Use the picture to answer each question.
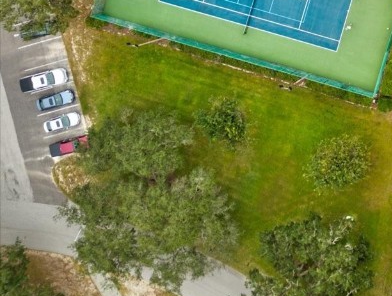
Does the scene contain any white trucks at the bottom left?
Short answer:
No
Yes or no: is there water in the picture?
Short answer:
No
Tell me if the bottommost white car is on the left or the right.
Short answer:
left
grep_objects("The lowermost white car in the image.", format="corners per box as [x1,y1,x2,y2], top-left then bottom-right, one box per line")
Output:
[43,110,84,133]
